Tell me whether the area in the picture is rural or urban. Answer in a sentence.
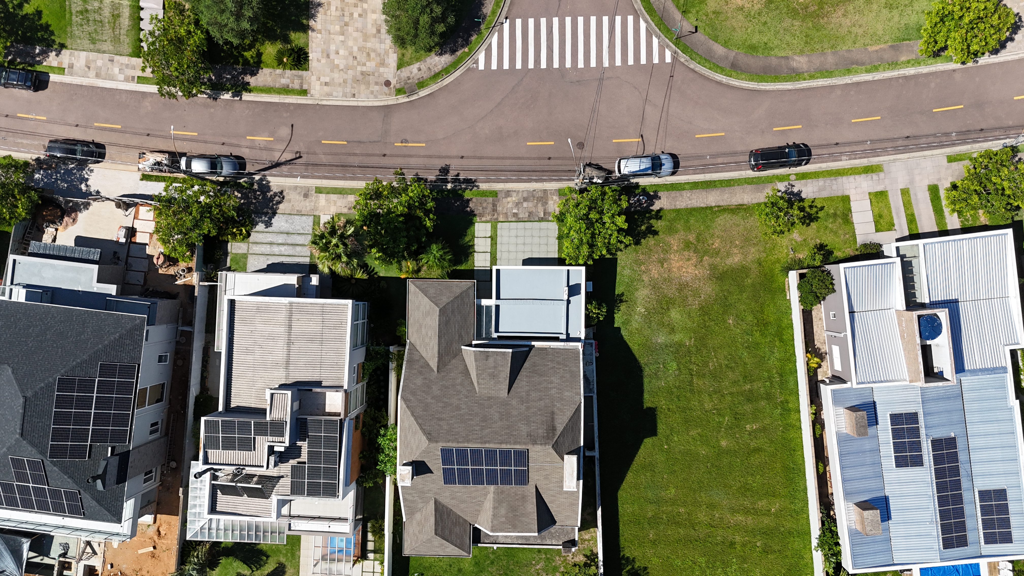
It looks urban.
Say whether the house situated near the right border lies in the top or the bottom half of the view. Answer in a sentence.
The house situated near the right border sits in the bottom half of the picture.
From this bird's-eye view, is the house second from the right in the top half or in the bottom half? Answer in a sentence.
Seen from above, the house second from the right lies in the bottom half of the view.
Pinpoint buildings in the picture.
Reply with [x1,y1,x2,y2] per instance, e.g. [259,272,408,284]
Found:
[0,254,183,544]
[811,228,1024,574]
[397,267,596,558]
[186,273,372,544]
